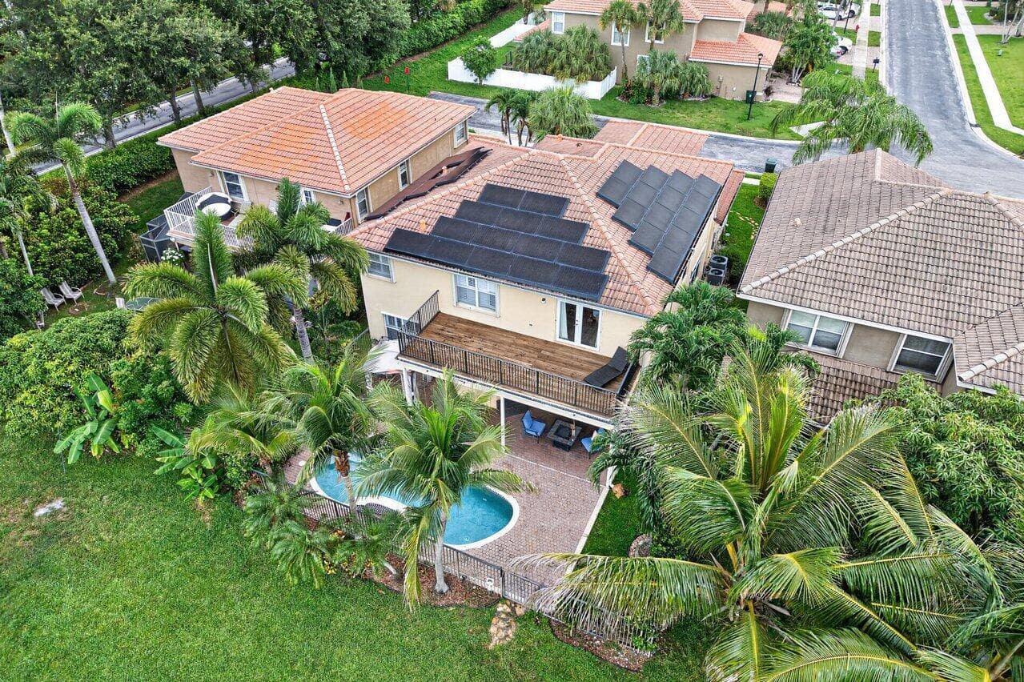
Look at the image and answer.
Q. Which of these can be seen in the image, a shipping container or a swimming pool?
swimming pool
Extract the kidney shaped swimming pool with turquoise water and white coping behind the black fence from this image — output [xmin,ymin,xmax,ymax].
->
[310,444,519,547]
